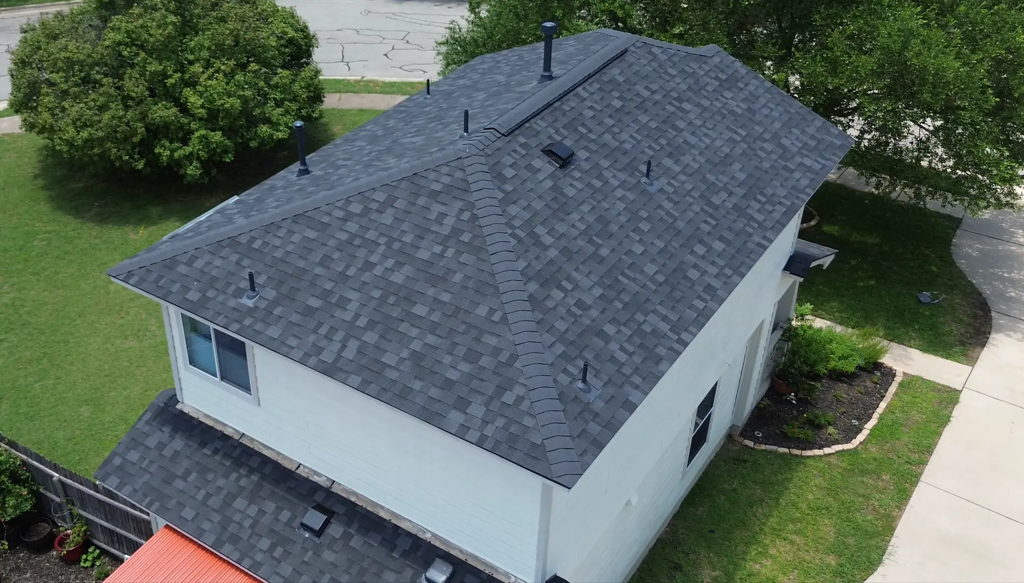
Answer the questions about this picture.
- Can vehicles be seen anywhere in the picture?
No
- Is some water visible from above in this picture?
No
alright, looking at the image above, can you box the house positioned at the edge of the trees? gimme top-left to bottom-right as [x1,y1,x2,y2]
[92,20,854,583]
